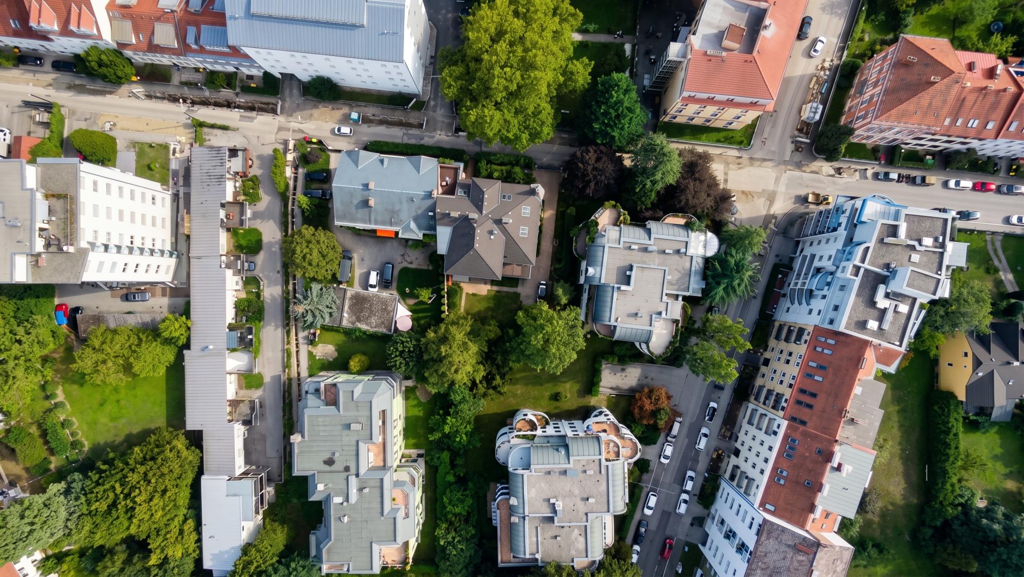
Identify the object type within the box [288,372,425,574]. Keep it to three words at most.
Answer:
building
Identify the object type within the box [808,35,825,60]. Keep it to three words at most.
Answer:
car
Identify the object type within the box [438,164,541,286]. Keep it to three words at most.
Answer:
house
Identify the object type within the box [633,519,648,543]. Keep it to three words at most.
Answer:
car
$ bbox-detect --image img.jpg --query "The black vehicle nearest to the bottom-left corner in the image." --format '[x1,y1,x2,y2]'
[72,306,85,330]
